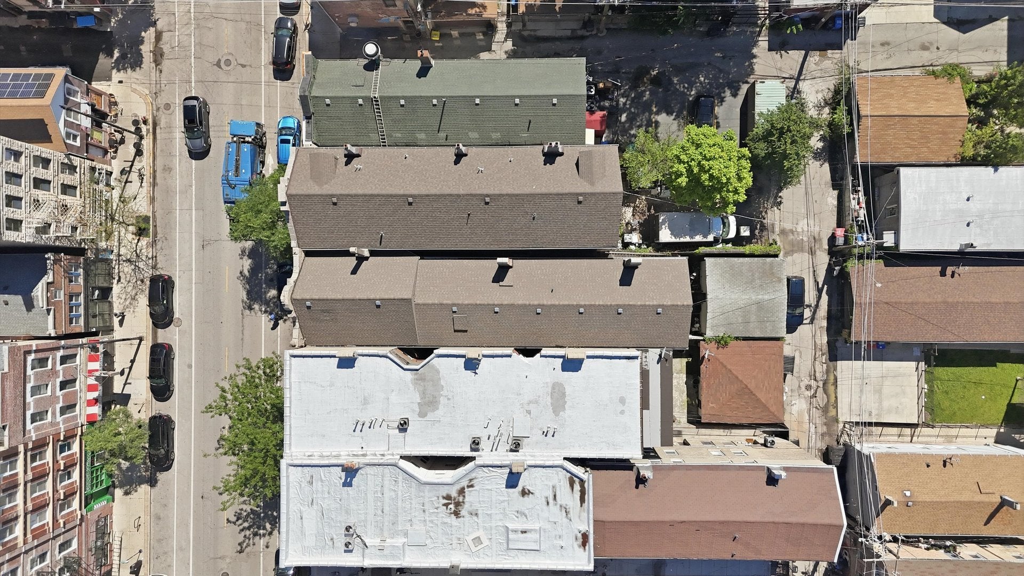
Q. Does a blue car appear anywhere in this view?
Yes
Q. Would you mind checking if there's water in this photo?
No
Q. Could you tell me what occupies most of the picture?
buildings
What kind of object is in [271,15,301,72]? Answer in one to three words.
car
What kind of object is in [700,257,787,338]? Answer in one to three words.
building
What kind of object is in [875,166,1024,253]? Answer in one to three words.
house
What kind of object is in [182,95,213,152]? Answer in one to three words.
car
